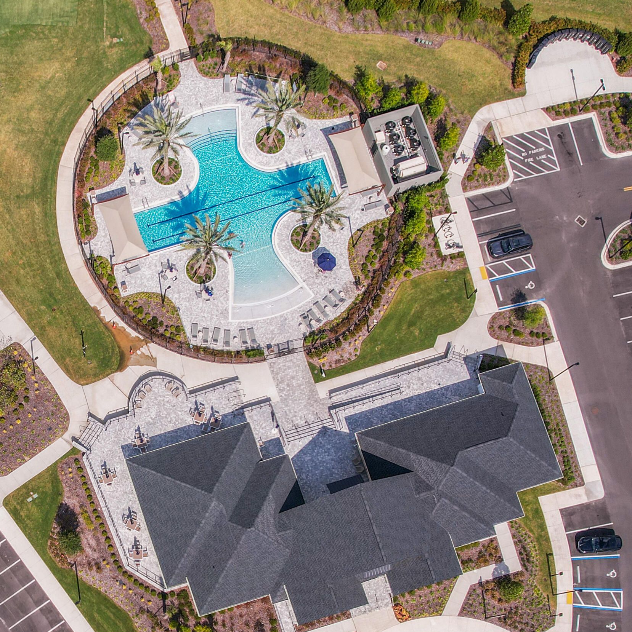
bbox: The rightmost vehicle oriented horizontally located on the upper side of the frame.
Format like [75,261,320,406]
[487,231,534,257]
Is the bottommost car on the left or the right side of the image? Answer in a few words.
right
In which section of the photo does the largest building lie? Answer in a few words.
bottom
